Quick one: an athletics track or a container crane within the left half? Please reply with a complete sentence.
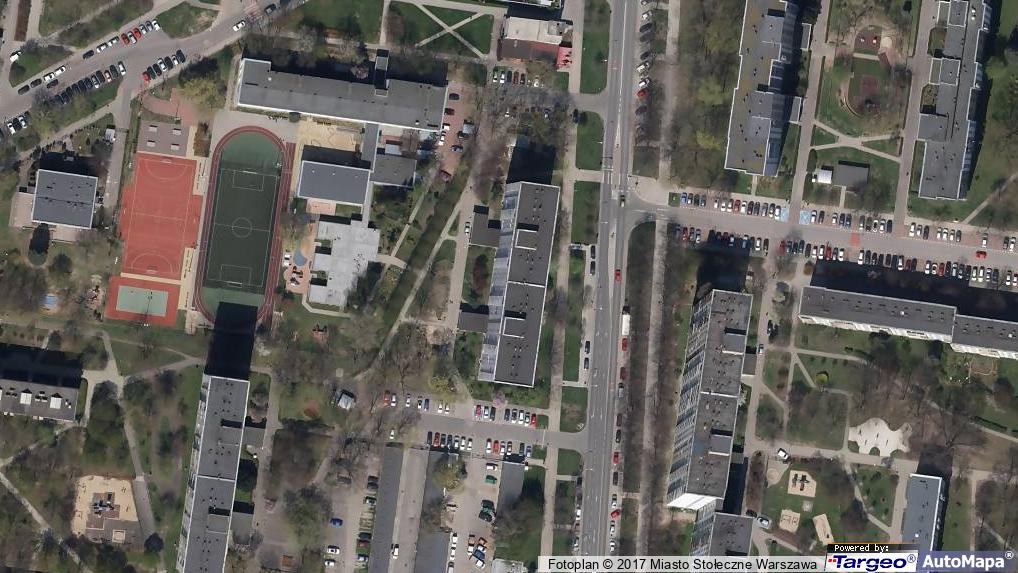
It is an athletics track that can be seen within the left half.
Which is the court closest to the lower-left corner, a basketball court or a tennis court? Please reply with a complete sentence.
The court closest to the lower-left corner is a basketball court.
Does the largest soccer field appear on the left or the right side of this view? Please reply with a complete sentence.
It is on the left.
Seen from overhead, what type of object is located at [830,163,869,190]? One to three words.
building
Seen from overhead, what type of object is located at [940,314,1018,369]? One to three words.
building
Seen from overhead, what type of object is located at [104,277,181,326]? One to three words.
basketball court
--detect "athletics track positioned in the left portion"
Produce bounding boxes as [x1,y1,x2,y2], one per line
[193,126,296,329]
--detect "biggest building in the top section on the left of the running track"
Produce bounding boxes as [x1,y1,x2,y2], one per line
[32,169,97,231]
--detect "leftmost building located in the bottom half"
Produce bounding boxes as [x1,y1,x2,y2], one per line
[0,378,79,422]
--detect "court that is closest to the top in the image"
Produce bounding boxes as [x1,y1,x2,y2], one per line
[117,151,204,281]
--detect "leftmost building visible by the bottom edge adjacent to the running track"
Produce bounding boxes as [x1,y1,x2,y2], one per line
[175,376,250,573]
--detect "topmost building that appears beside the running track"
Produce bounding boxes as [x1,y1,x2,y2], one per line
[237,59,447,134]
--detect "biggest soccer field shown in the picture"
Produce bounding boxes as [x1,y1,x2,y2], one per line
[204,137,280,319]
